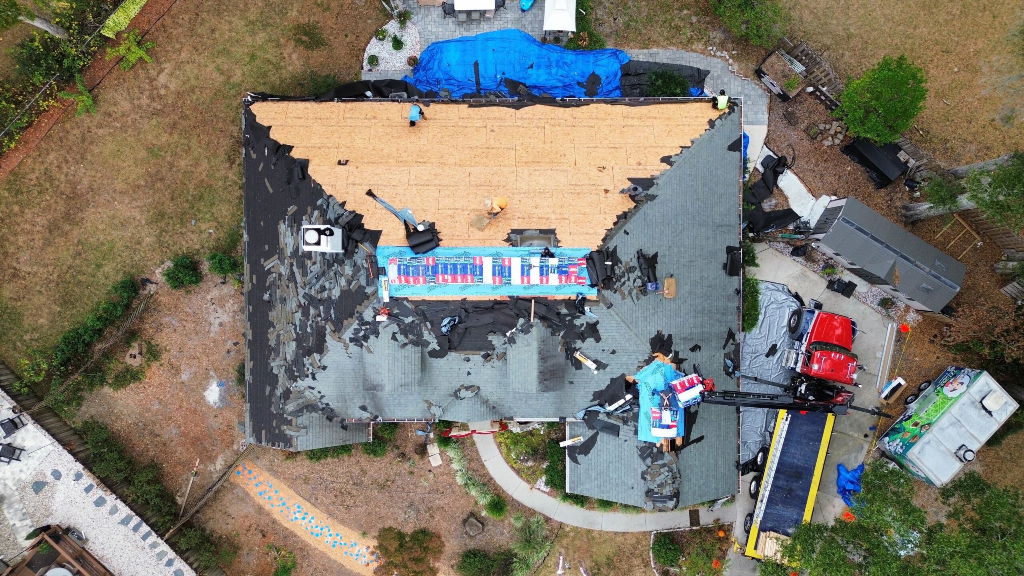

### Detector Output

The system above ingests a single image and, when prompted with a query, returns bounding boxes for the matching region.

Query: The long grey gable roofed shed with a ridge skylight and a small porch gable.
[808,195,966,313]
